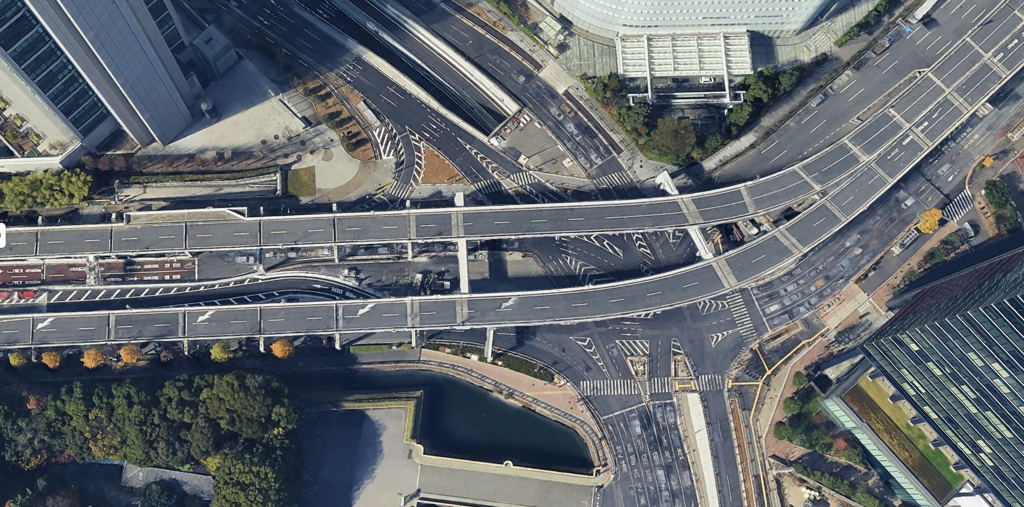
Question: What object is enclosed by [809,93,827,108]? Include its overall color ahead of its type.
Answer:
gray vehicle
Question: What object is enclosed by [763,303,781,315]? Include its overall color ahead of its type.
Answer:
white vehicle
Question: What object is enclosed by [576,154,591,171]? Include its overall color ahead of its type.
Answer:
gray car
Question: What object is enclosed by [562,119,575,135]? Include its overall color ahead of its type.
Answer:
gray vehicle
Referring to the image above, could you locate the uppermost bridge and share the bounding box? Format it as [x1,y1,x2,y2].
[0,0,1024,294]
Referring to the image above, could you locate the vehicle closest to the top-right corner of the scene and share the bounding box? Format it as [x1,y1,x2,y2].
[909,0,944,27]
